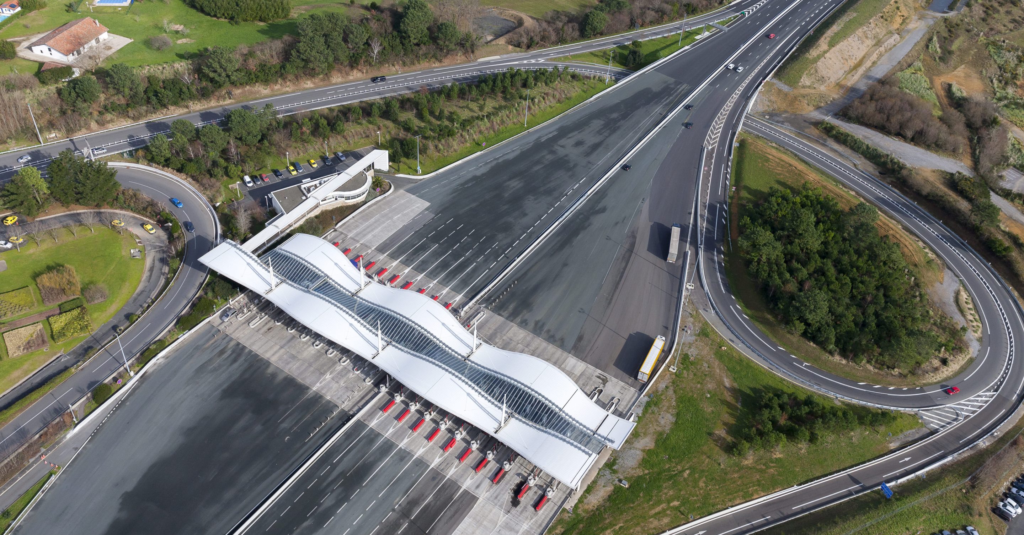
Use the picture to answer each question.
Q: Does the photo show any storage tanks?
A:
No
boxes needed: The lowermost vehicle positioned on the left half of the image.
[220,308,237,322]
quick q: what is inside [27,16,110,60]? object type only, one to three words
house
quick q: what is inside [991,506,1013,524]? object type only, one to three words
car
